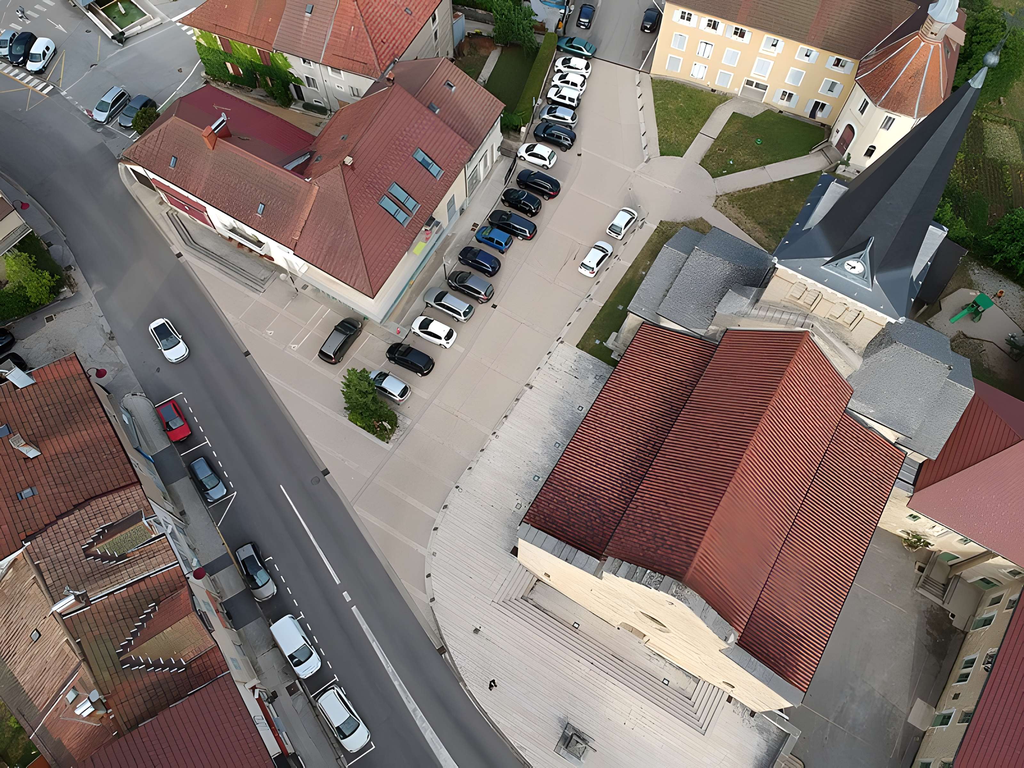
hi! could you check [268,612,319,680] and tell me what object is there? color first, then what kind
white van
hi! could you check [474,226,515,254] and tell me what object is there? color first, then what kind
blue car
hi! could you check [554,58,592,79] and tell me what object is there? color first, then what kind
white car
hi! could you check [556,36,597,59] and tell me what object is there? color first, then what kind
blue car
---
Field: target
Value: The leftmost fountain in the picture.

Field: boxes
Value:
[75,0,164,46]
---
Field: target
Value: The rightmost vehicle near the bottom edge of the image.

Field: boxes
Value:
[316,682,370,754]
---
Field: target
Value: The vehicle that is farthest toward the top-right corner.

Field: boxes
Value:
[638,9,660,35]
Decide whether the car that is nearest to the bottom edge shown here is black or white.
white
